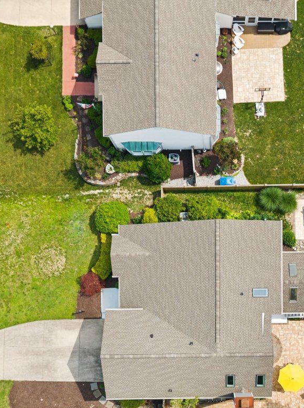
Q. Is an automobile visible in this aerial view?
No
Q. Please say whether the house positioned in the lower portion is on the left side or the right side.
right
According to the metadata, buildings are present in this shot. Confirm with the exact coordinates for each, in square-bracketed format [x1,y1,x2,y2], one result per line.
[77,0,299,157]
[101,220,304,408]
